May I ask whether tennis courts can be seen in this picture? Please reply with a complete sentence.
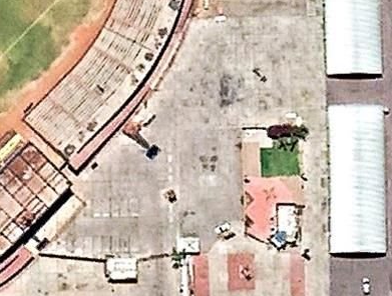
No, no tennis court is visible in the view.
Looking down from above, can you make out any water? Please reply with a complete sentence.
No, water can't be seen anywhere here.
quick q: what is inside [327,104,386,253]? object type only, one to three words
building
